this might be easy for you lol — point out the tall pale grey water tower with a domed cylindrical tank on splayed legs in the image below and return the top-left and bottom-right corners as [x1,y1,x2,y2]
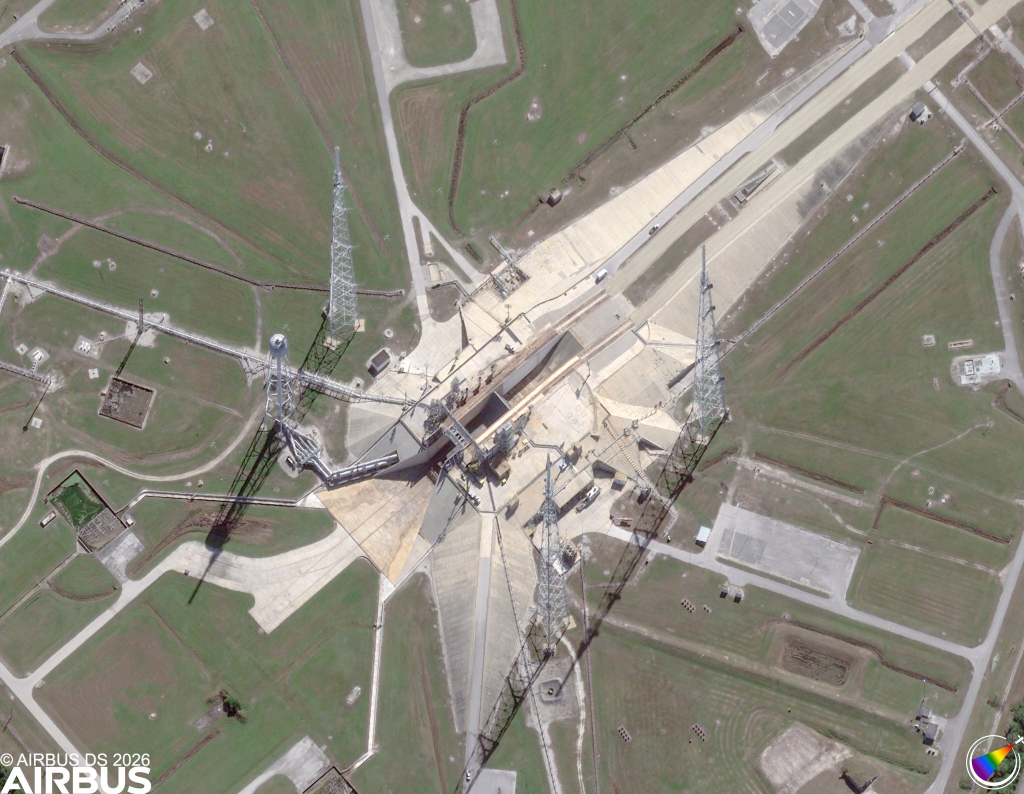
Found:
[261,336,299,438]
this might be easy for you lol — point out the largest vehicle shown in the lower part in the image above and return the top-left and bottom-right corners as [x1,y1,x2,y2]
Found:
[576,489,598,513]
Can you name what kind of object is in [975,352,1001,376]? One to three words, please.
building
